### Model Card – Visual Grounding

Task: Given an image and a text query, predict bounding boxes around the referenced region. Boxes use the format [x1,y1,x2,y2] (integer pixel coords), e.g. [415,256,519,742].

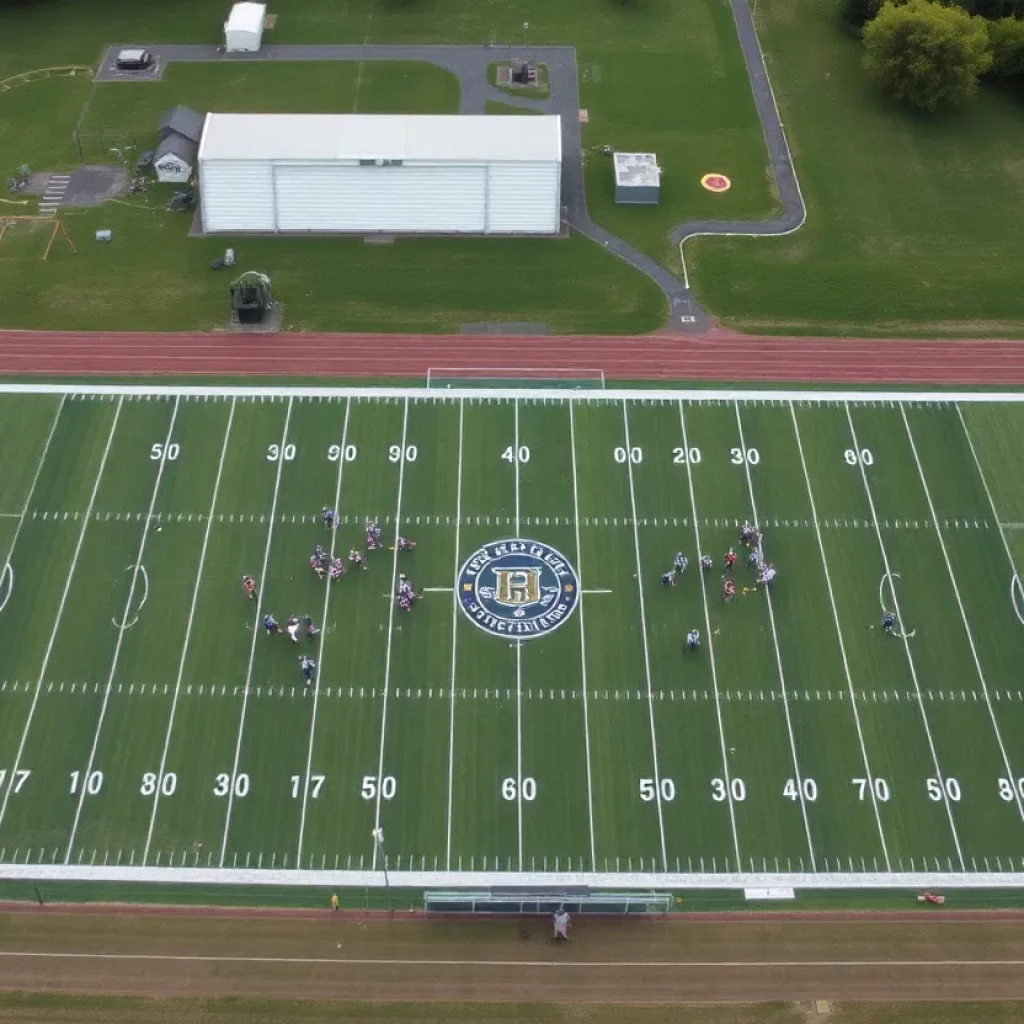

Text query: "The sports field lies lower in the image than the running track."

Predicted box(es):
[0,393,1024,873]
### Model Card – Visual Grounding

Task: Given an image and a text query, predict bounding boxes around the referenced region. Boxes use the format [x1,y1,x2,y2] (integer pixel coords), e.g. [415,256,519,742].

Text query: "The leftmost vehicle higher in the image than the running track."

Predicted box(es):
[117,50,155,71]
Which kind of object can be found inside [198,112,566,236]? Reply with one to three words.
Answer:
hangar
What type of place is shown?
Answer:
sports ground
